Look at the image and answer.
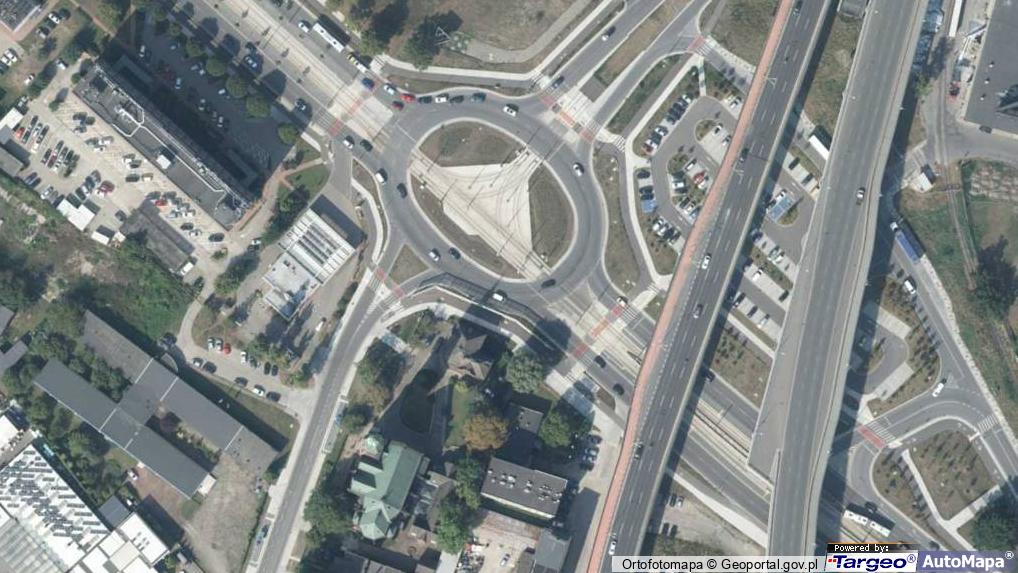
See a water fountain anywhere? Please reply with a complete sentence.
No, the picture doesn't show any water fountain.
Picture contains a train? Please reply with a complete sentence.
Yes, the image includes a train.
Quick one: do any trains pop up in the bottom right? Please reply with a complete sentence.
Yes, a train shows up in the bottom right.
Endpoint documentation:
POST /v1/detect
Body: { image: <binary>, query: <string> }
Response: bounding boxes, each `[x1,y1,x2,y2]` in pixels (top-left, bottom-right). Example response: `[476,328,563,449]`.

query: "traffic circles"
[350,71,606,338]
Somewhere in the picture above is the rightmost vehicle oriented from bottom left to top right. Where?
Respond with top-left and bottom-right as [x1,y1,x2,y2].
[932,382,944,398]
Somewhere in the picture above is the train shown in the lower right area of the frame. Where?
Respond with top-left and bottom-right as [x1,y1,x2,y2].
[842,510,891,537]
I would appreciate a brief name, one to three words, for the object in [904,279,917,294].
vehicle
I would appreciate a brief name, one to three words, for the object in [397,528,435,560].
house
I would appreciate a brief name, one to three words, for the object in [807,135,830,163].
truck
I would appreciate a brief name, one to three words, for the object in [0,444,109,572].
building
